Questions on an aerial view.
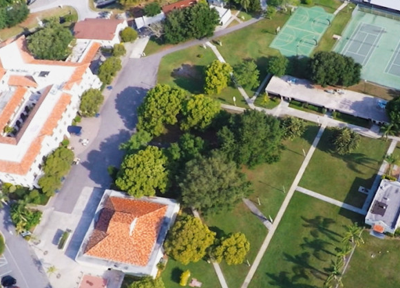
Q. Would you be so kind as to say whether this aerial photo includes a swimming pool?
No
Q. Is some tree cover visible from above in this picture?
Yes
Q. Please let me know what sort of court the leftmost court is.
basketball court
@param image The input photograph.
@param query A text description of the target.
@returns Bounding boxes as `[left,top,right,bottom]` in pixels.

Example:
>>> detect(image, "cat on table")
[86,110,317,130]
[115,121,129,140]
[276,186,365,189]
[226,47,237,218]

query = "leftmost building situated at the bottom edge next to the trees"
[76,190,180,282]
